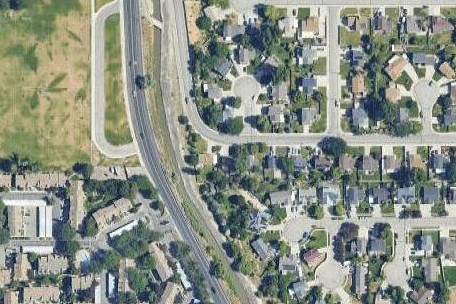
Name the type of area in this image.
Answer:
residential area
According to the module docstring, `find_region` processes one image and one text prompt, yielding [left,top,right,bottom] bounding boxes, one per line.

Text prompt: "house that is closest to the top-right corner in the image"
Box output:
[432,16,453,33]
